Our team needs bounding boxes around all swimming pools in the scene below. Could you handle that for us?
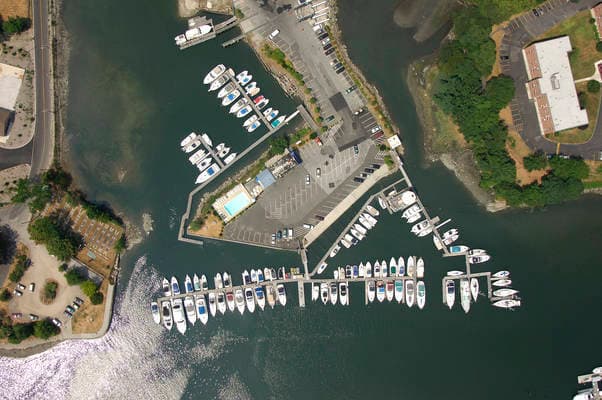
[213,184,255,224]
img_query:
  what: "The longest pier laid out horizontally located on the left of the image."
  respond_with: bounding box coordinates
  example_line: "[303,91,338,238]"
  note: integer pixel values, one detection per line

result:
[158,266,305,324]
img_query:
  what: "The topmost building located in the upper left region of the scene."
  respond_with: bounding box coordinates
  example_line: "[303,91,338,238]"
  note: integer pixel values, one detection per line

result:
[0,62,29,111]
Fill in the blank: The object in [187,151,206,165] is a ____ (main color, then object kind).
white boat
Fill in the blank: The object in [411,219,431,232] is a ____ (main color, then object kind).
white boat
